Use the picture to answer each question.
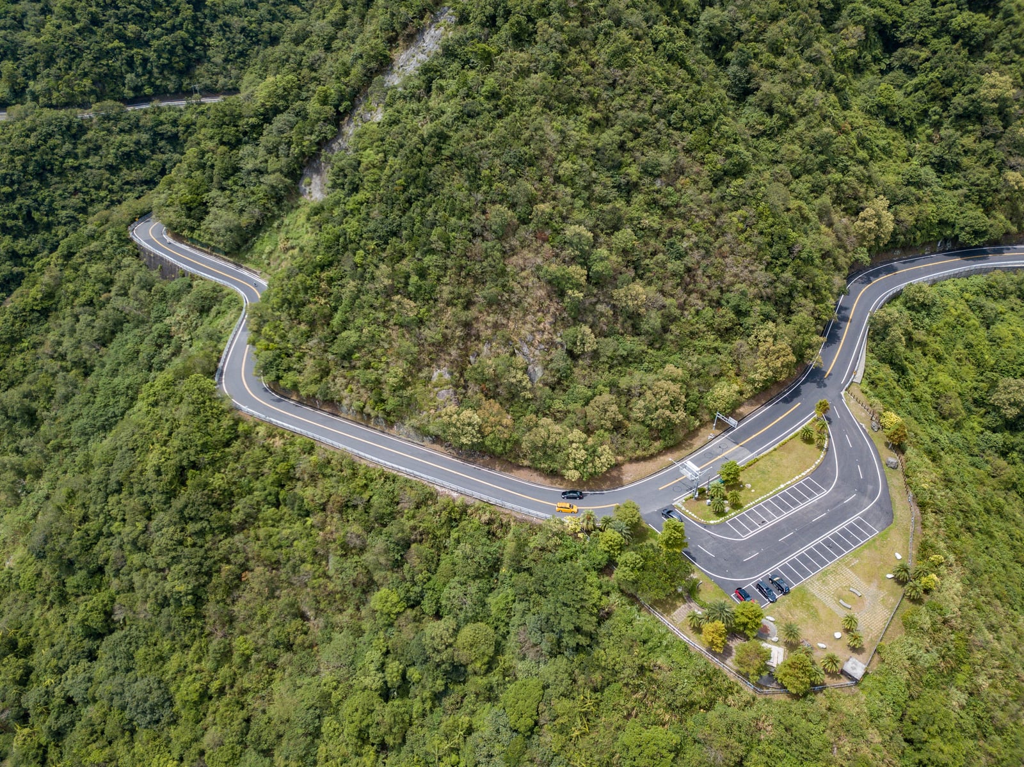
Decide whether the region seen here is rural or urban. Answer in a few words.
rural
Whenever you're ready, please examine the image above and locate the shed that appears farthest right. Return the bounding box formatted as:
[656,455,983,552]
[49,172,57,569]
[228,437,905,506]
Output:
[840,657,866,685]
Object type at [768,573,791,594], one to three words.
car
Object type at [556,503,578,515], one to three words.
vehicle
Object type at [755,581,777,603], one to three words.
car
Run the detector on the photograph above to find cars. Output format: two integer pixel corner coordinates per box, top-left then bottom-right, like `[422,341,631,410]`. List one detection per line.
[755,581,777,603]
[662,509,682,524]
[556,503,578,515]
[562,491,583,500]
[768,573,791,594]
[734,588,755,608]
